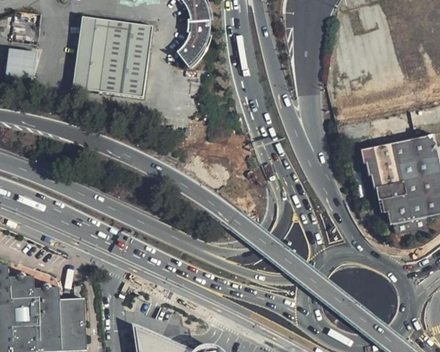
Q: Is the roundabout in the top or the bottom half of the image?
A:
bottom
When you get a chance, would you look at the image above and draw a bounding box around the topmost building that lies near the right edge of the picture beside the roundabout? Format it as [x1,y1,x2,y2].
[360,134,440,225]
